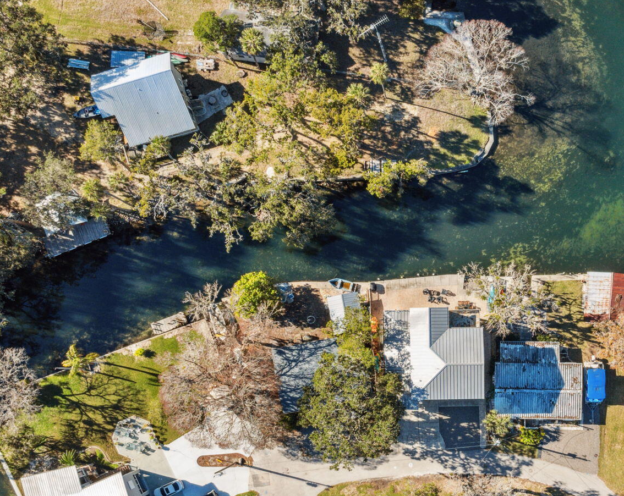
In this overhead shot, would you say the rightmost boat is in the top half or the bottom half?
bottom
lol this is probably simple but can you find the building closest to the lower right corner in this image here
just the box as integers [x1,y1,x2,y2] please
[494,341,582,419]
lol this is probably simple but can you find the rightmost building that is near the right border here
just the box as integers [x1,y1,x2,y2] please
[583,272,624,320]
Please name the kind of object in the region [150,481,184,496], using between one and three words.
car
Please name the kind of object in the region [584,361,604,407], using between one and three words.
boat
